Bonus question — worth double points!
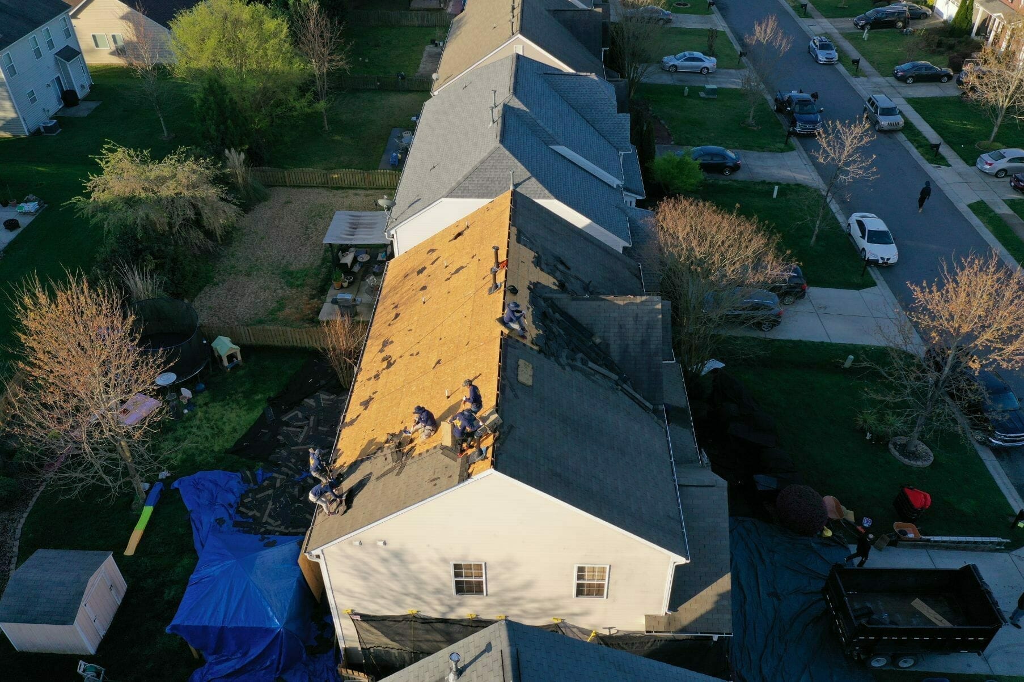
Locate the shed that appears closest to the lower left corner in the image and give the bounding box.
[0,553,129,657]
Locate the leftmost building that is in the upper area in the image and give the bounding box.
[0,0,100,137]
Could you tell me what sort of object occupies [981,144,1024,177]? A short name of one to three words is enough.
car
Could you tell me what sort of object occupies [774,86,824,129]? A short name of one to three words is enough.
truck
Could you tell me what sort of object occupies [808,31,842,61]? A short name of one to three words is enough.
car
